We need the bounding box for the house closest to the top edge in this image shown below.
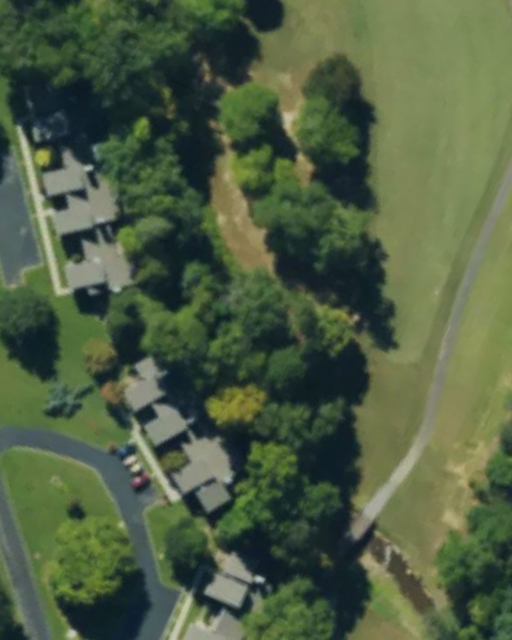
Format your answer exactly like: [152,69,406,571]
[31,93,101,141]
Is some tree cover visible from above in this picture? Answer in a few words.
Yes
